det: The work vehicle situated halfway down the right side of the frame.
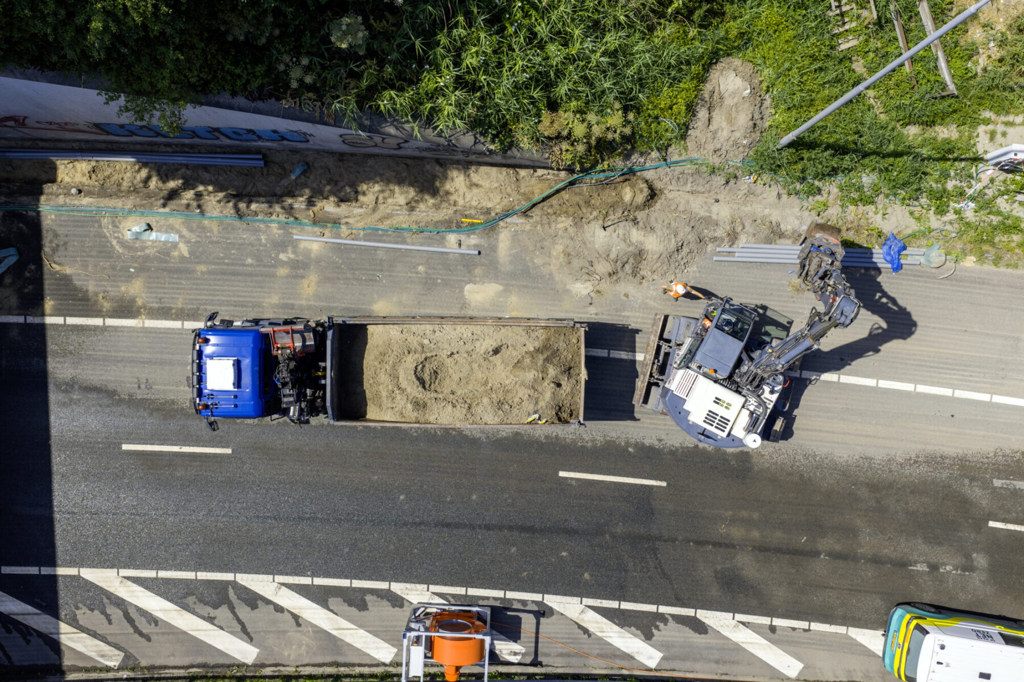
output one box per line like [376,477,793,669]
[630,220,863,450]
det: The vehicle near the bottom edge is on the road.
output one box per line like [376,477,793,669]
[879,605,1024,682]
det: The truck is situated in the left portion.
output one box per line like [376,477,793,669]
[190,312,593,431]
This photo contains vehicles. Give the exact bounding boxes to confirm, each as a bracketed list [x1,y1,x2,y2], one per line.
[630,220,863,450]
[879,605,1024,682]
[190,312,593,431]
